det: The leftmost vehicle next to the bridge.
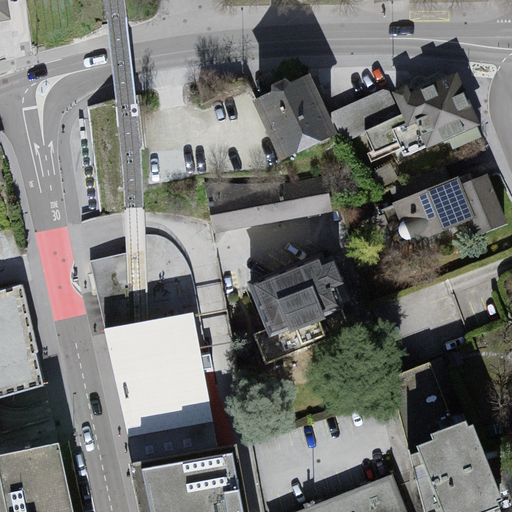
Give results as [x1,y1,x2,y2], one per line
[84,54,108,67]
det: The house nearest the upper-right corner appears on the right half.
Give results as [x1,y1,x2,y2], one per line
[392,72,482,153]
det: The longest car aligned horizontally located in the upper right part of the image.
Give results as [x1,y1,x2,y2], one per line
[390,24,414,36]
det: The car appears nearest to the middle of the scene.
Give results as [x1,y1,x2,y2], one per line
[246,260,267,278]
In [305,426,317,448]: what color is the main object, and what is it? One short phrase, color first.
blue vehicle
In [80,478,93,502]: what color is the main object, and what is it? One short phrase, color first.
black vehicle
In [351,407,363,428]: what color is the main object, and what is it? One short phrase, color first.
white vehicle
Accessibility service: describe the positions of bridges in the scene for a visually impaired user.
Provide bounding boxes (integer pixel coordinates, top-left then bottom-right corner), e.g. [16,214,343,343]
[104,0,144,208]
